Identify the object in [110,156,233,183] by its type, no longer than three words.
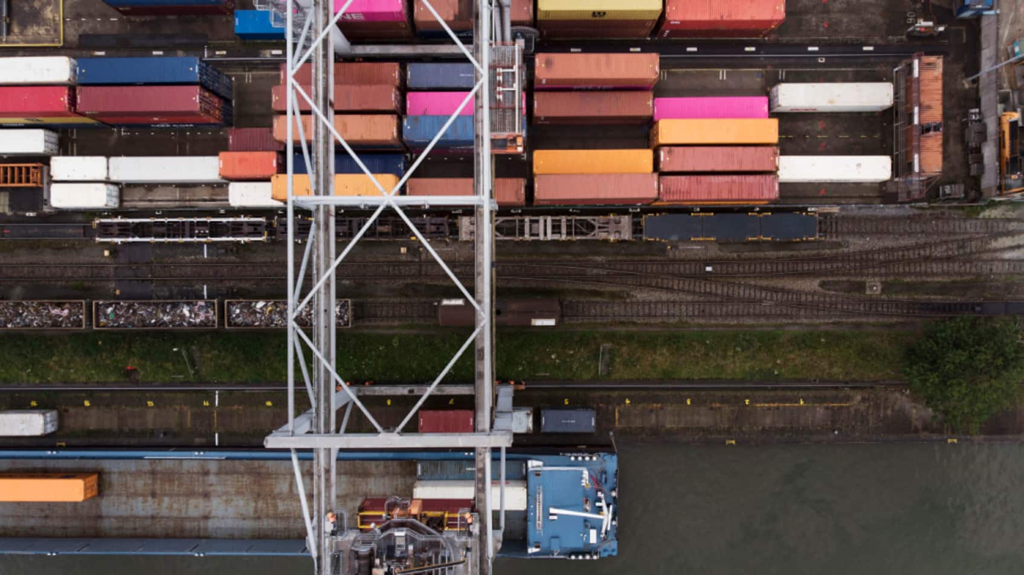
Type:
shipping container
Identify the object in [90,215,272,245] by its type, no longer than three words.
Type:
rail car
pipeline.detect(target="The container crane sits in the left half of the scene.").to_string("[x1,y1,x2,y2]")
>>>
[260,0,539,575]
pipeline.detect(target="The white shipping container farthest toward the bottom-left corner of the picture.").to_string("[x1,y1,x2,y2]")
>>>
[0,409,60,436]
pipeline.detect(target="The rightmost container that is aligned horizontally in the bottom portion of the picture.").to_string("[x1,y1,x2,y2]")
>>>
[541,407,598,433]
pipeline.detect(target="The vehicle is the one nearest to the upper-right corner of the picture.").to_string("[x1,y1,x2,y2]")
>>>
[904,0,944,39]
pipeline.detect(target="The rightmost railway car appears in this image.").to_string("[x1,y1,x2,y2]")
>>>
[639,213,823,240]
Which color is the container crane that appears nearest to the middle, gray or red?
gray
